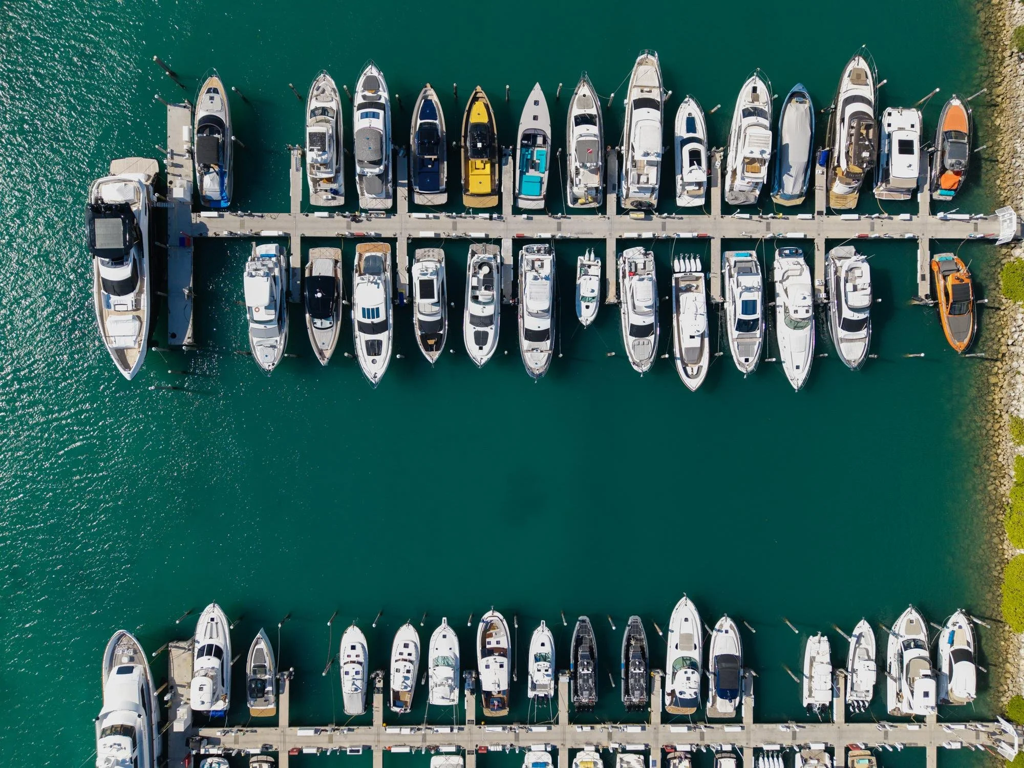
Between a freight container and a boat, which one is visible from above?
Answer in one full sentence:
It is a boat that can be seen here.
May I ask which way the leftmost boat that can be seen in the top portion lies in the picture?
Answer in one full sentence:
I'd say the leftmost boat that can be seen in the top portion is aligned from top to bottom in the picture.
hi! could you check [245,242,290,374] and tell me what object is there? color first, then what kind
white boat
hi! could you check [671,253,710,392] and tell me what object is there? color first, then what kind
white boat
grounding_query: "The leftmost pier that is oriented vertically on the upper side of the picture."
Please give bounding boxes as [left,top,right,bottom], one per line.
[167,104,195,345]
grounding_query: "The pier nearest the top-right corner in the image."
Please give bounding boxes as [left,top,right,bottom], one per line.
[914,150,929,214]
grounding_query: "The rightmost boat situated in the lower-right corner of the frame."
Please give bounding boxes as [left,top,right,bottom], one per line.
[931,606,977,711]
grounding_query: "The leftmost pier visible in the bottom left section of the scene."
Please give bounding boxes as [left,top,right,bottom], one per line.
[169,645,195,768]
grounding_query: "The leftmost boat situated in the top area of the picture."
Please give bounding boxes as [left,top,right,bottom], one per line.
[87,157,161,379]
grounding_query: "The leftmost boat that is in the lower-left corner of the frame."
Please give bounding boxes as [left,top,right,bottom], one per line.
[92,626,164,768]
